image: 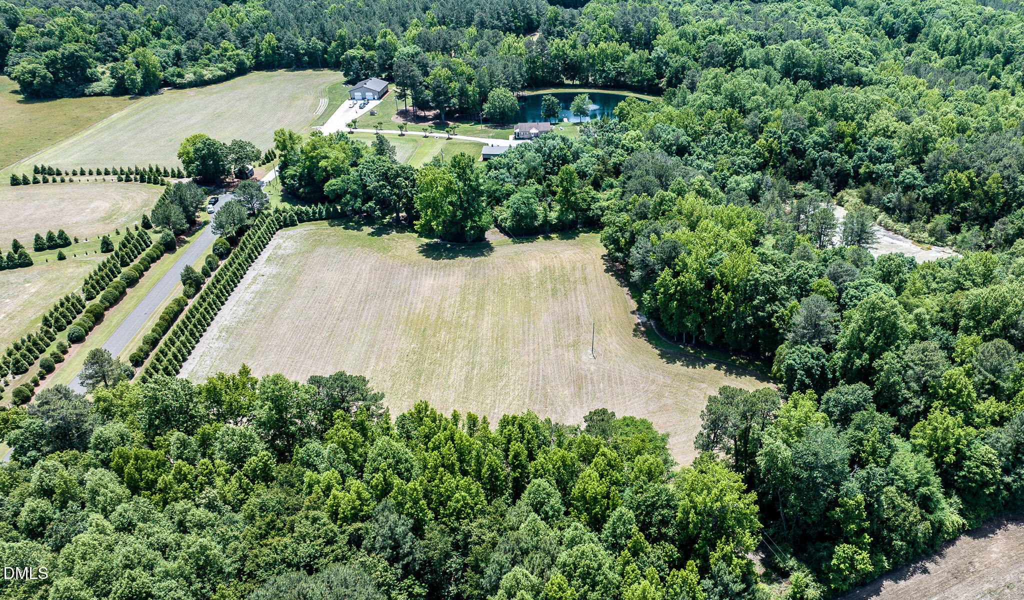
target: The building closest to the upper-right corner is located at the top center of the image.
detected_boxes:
[512,121,551,139]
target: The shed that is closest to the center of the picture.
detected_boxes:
[481,146,521,161]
